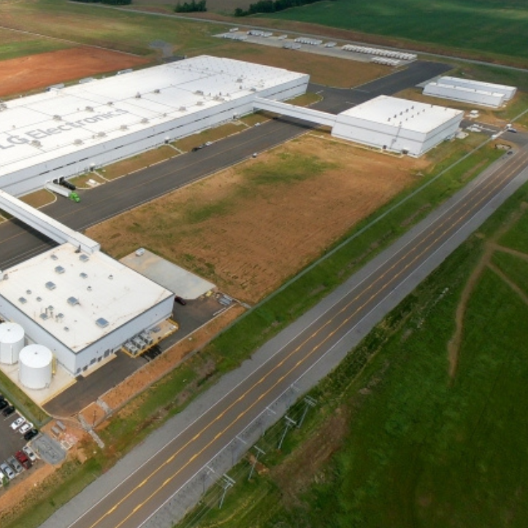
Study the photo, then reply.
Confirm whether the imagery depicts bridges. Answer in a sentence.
Yes, this view includes a bridge.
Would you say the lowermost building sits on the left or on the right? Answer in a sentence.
The lowermost building appears in the left half of the scene.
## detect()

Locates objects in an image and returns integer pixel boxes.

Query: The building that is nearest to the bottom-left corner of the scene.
[0,241,176,375]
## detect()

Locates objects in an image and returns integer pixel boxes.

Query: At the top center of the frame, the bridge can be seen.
[246,97,338,125]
